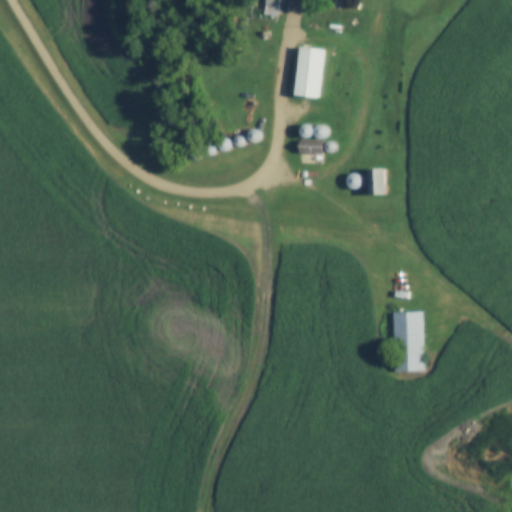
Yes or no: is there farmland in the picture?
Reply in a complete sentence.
Yes, farmland can be seen from above here.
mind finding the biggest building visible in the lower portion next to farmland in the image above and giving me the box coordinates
[392,311,427,372]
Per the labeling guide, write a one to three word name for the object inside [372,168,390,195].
shed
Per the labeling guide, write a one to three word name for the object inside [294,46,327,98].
shed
